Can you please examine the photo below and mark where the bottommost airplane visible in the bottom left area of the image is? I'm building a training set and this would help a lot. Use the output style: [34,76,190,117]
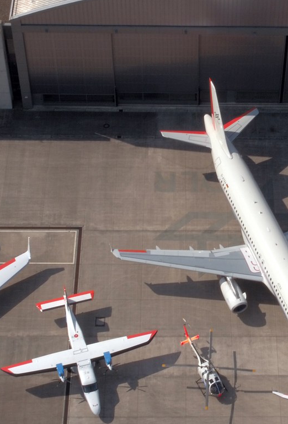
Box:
[0,287,156,415]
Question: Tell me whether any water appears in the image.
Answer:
No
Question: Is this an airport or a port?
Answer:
airport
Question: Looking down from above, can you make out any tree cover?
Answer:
No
